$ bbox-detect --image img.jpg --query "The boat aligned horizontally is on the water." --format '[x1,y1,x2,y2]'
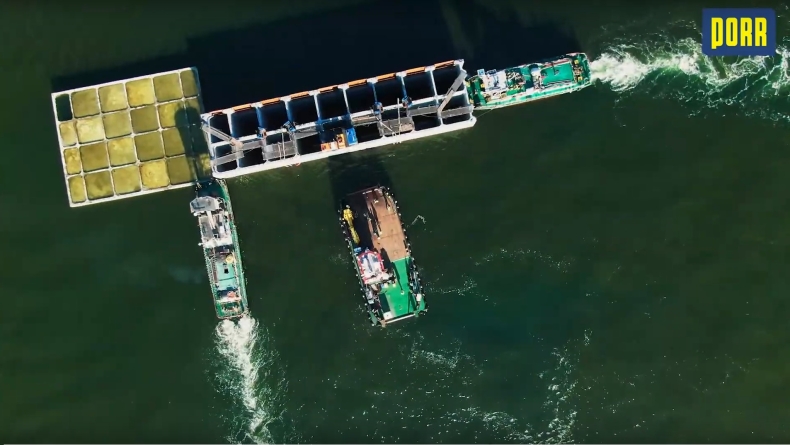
[468,56,589,108]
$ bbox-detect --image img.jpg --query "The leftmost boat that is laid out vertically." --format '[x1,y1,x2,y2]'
[189,181,247,318]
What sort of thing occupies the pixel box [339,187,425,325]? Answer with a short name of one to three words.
vessel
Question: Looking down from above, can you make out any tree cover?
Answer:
No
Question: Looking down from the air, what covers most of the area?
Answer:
water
